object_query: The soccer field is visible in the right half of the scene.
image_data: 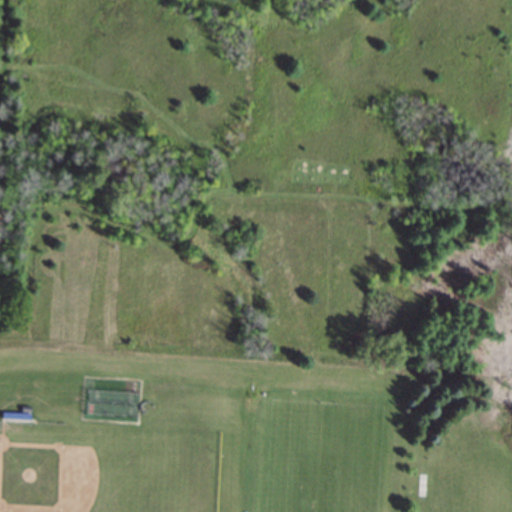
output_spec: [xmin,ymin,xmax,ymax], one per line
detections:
[260,400,388,512]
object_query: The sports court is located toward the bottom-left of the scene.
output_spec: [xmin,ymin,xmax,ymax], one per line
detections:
[82,378,142,426]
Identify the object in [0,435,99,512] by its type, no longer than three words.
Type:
baseball field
